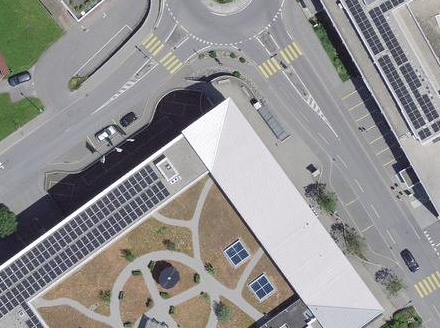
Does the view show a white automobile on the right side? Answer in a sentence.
No, I can find no white automobile on the right side.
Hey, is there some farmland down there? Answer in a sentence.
No, the scene doesn't show any farmland.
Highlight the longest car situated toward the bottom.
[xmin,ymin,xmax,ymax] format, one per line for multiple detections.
[402,248,418,272]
